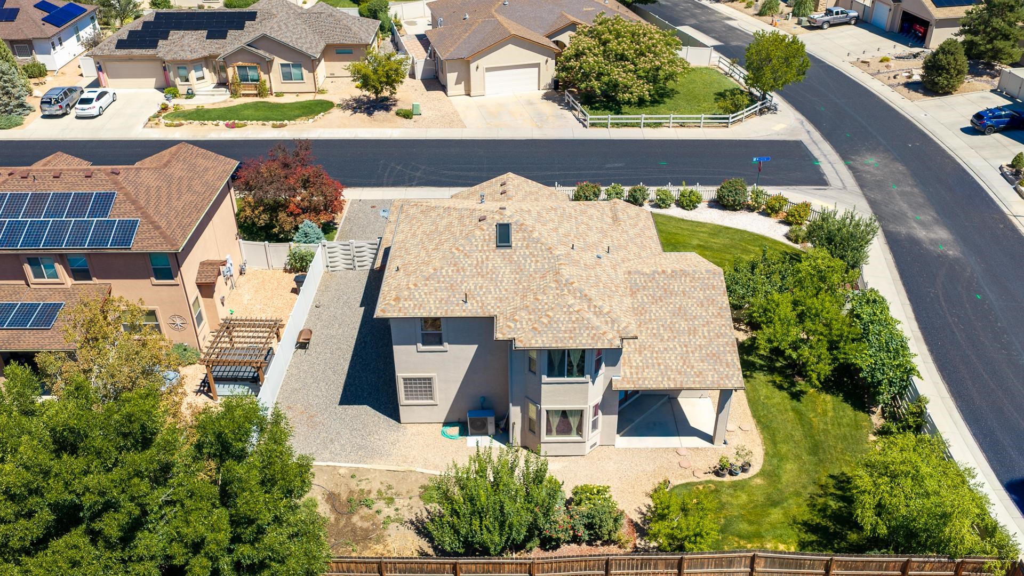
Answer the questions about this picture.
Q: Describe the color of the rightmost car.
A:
blue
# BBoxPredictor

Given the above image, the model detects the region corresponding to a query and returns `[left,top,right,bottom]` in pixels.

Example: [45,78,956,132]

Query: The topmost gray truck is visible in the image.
[811,5,861,28]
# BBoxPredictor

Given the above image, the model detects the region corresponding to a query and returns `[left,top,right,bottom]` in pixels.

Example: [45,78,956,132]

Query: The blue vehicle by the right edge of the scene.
[969,103,1024,132]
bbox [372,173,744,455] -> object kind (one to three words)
house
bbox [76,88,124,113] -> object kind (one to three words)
car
